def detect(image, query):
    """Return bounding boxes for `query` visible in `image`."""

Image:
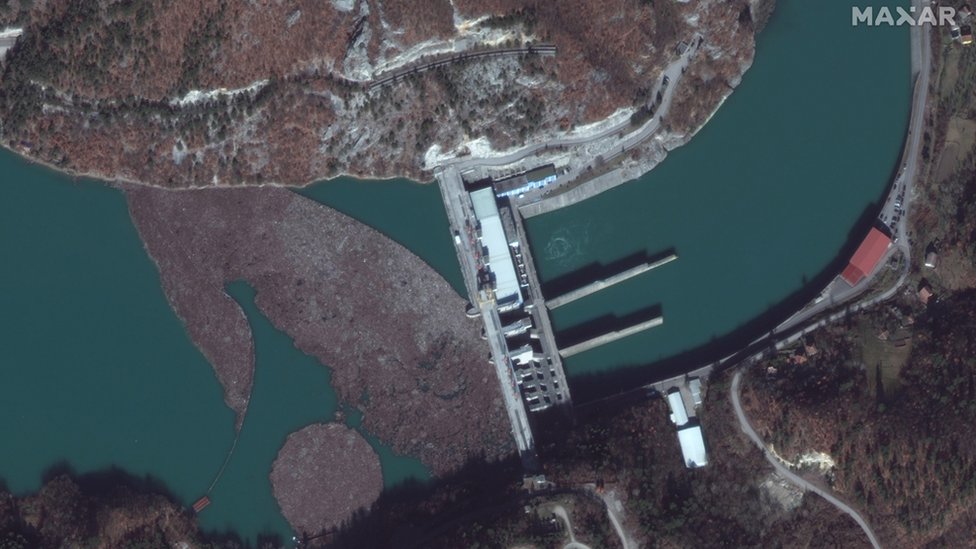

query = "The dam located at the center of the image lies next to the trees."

[437,170,568,479]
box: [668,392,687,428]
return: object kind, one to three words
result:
building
